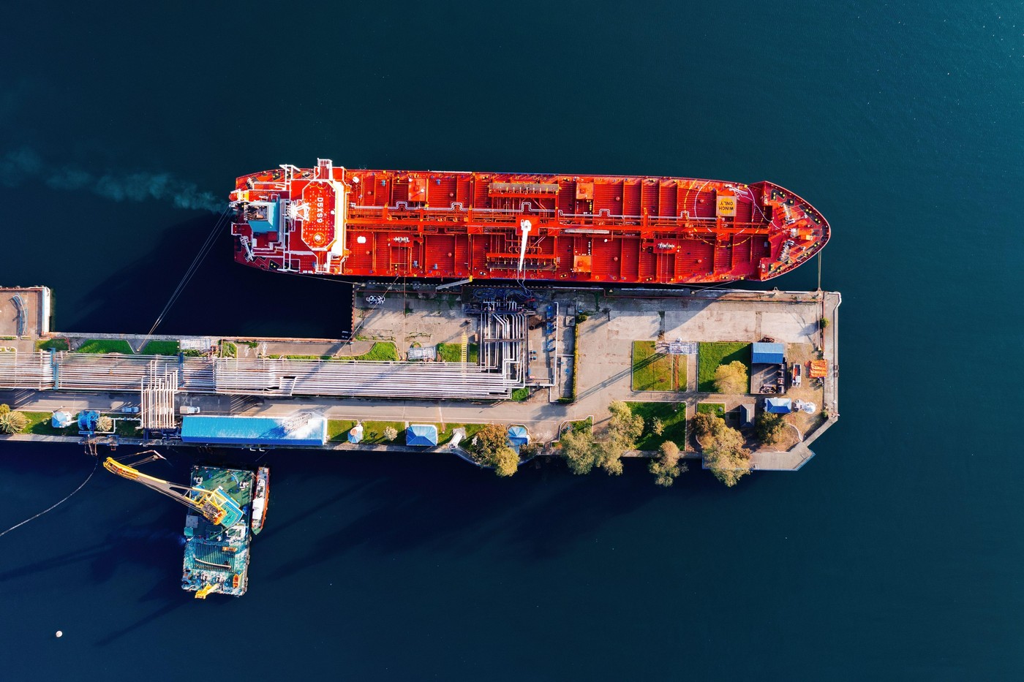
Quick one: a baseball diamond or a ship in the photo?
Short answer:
ship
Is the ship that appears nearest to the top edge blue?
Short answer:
No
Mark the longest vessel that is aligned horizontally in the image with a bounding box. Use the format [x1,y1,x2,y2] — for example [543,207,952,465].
[229,159,831,292]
